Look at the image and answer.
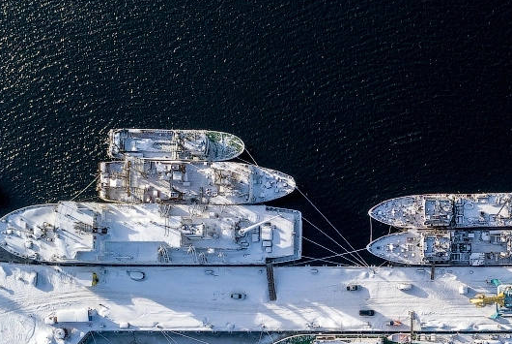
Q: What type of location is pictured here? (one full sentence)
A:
This image shows a port.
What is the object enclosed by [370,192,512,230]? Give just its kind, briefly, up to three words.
boat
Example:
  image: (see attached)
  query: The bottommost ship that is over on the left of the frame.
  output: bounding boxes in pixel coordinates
[0,199,307,267]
